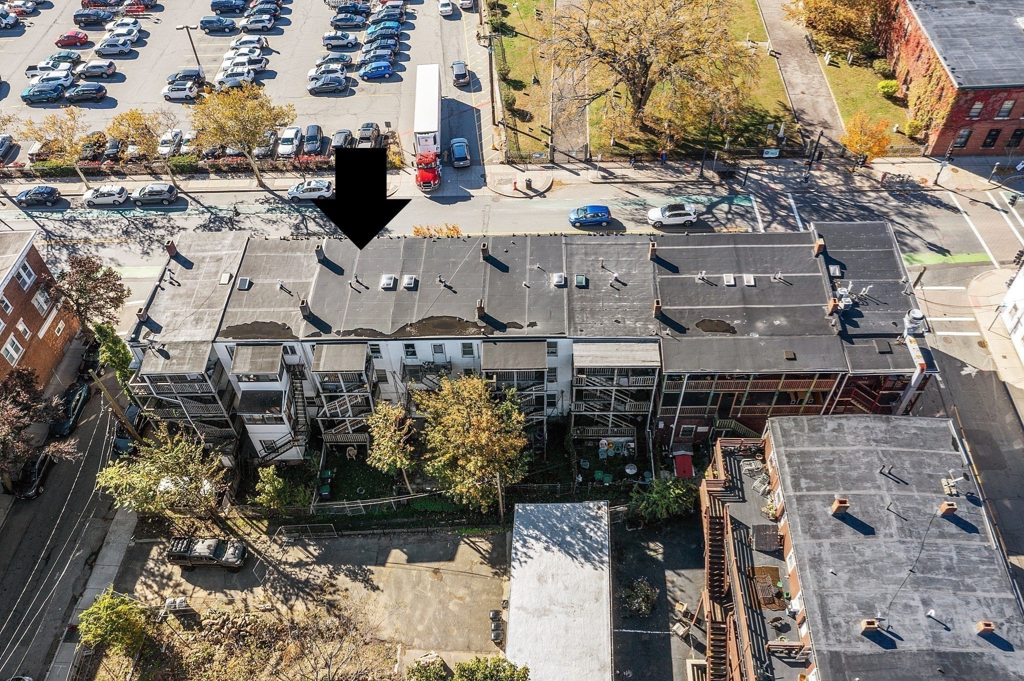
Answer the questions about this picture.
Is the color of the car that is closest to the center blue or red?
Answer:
blue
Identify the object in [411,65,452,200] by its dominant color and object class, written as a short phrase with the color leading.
white truck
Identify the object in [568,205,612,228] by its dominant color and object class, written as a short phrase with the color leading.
blue car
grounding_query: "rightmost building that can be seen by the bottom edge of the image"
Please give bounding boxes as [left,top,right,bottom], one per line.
[693,419,1024,681]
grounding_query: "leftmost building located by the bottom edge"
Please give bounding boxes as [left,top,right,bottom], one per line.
[508,501,621,681]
